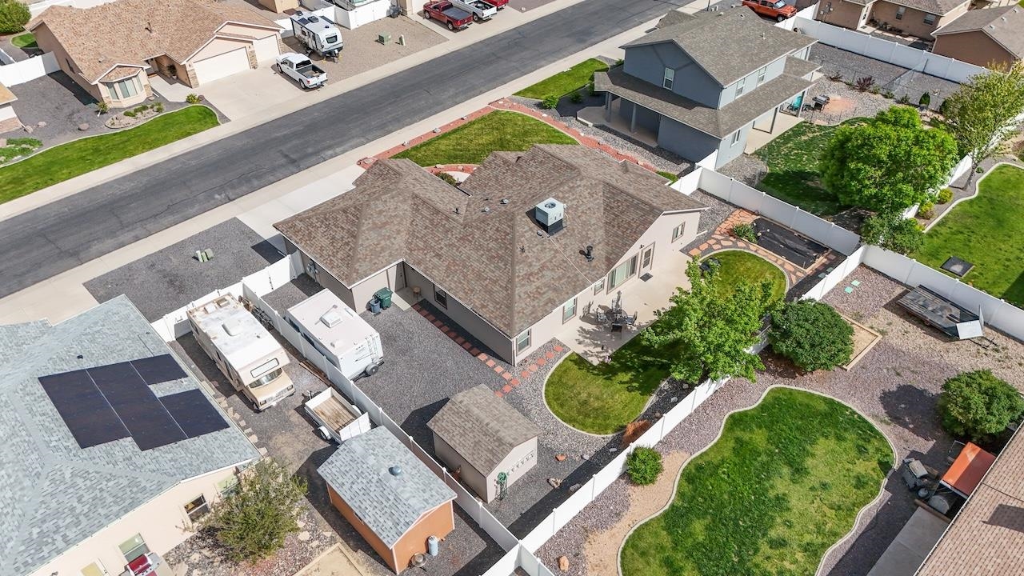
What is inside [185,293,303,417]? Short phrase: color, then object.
white camper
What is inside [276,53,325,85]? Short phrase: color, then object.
white truck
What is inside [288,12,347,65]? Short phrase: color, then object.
white trailer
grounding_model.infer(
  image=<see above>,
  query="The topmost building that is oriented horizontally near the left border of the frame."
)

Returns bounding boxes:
[21,0,284,107]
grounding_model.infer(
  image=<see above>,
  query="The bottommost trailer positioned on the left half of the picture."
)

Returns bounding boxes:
[304,380,366,440]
